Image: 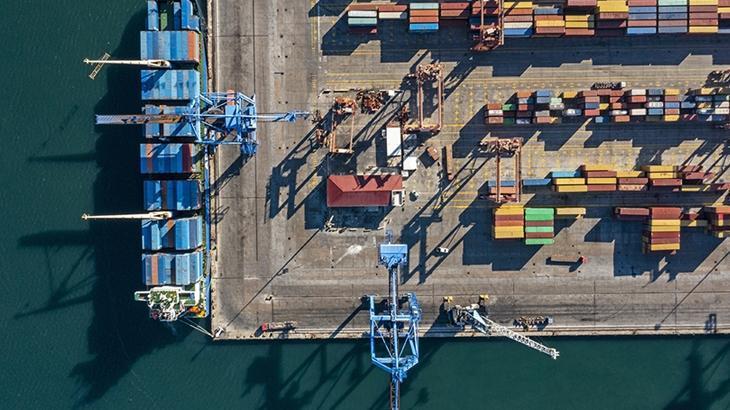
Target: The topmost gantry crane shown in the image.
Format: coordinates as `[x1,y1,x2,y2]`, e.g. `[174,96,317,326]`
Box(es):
[453,0,505,56]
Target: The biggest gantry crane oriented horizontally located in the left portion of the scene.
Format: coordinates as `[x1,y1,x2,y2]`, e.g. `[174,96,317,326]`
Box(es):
[95,86,303,156]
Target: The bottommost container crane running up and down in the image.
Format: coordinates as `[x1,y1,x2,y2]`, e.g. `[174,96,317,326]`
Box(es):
[362,224,423,410]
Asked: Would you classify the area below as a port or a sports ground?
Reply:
port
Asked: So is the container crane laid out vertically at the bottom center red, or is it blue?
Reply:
blue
